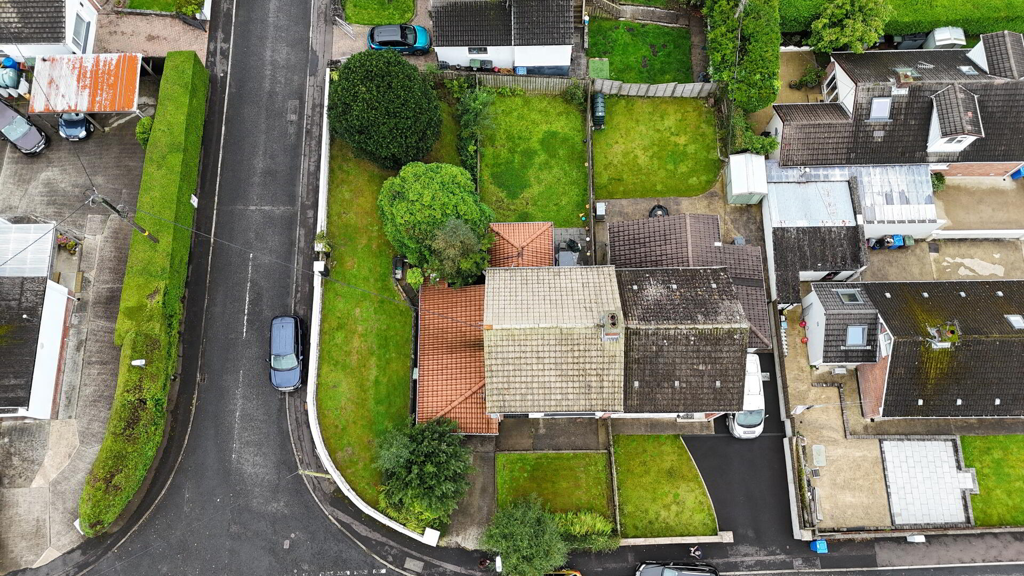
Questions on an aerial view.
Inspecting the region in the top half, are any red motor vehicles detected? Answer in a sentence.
No, the scene shows no red motor vehicle in the top half.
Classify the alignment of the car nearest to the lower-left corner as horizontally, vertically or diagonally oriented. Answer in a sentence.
From this overhead view, the car nearest to the lower-left corner appears to run vertically.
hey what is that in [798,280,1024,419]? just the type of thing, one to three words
house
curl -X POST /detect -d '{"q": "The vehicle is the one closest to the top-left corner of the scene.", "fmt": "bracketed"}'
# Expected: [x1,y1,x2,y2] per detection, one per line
[0,93,48,159]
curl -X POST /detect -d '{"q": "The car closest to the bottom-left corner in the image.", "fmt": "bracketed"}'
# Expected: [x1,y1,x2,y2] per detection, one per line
[267,315,309,394]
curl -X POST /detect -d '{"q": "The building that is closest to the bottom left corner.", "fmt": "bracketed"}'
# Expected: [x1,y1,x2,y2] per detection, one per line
[0,221,82,413]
